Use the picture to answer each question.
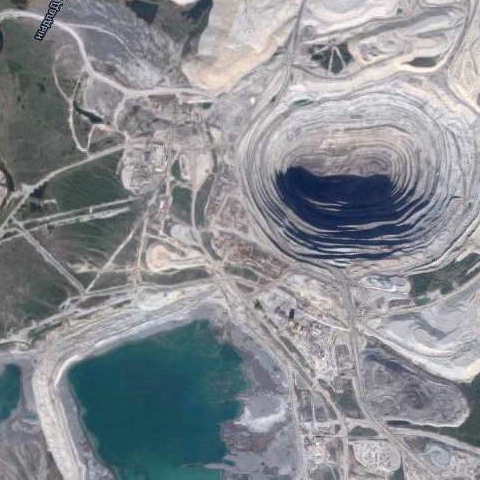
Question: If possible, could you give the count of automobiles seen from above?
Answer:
zero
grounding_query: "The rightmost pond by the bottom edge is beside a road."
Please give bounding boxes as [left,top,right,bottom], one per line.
[68,317,249,480]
